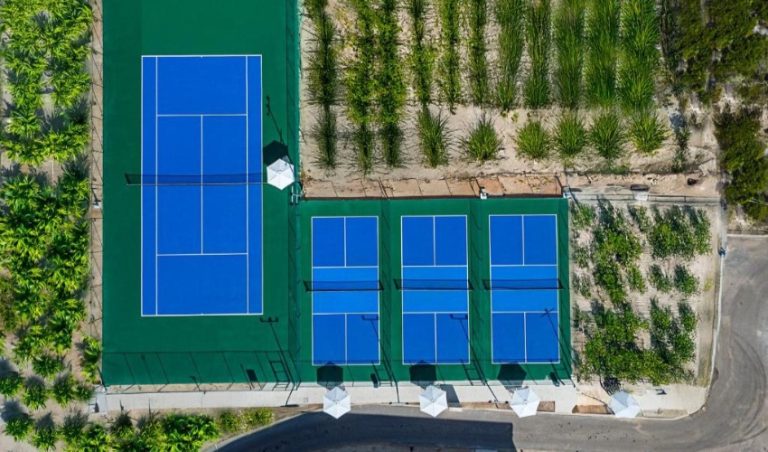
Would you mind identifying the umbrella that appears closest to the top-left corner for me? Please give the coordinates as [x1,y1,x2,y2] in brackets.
[267,157,295,189]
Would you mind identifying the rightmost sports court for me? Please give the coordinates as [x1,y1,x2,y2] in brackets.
[480,199,572,382]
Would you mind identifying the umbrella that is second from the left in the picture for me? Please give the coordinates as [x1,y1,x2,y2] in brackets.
[322,386,350,418]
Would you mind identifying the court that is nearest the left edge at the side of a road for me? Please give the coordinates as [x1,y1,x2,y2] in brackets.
[103,0,300,385]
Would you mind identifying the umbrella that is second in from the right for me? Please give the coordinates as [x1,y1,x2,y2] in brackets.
[508,387,539,417]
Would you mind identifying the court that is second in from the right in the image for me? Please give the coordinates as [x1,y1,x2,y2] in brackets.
[391,199,483,382]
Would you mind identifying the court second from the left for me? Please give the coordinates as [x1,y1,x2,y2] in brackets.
[301,199,392,382]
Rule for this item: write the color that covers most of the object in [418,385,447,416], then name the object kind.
white umbrella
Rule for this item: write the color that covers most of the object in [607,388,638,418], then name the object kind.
white umbrella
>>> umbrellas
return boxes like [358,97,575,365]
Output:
[267,157,295,189]
[322,386,350,418]
[508,387,539,417]
[607,388,638,418]
[418,385,447,416]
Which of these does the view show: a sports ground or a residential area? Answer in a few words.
sports ground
